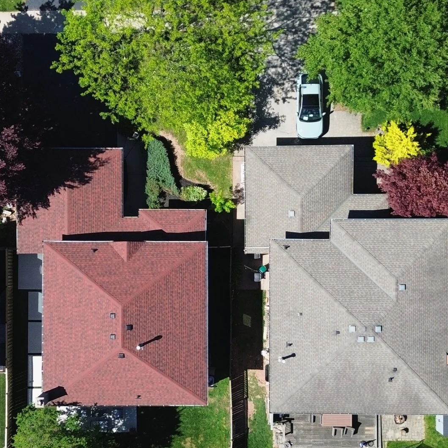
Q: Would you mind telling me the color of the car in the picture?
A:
white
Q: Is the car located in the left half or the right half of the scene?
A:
right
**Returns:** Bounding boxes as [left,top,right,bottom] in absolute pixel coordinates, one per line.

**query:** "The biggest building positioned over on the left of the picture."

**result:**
[14,146,209,409]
